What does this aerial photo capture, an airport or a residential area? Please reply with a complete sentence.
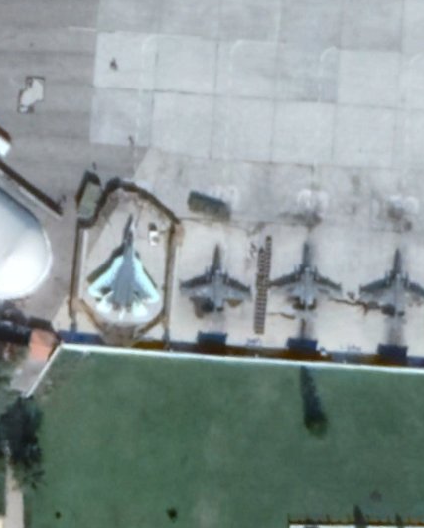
The area seen from above is an airport.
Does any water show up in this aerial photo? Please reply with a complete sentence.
No, no water is visible.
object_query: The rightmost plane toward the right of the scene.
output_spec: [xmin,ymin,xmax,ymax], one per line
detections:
[361,252,424,317]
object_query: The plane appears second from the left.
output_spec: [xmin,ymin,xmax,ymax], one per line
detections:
[181,244,253,314]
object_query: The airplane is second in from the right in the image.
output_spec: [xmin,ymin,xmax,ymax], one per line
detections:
[272,248,344,314]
